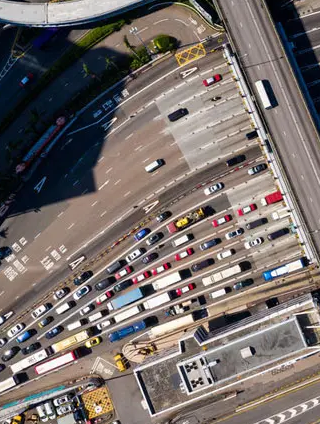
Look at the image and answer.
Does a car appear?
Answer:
Yes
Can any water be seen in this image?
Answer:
No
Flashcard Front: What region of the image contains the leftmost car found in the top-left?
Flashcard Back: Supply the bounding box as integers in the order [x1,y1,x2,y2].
[19,71,35,89]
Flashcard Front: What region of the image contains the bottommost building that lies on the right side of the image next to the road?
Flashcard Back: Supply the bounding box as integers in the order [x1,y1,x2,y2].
[134,292,320,416]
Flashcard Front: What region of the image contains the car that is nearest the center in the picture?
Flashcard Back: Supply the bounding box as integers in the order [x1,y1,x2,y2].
[155,210,173,224]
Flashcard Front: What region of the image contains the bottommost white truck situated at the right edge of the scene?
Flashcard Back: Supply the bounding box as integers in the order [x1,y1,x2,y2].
[262,259,305,281]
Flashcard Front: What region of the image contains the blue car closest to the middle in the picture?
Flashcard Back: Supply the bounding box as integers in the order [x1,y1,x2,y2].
[134,228,151,243]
